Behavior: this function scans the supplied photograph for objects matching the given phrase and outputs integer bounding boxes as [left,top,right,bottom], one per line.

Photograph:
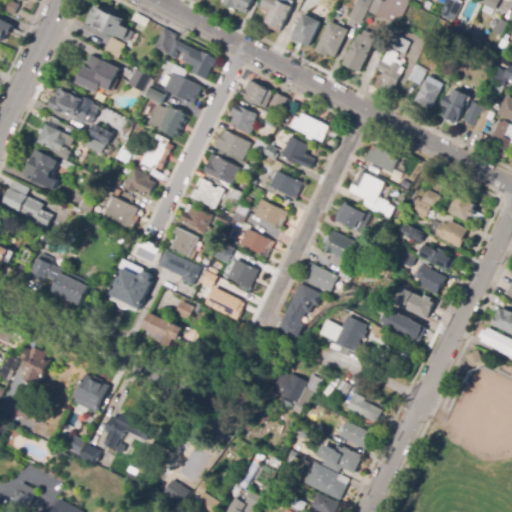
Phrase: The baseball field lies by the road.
[416,368,512,512]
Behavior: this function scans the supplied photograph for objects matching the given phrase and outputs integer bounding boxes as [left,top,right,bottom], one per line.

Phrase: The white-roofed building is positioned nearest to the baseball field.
[482,328,512,356]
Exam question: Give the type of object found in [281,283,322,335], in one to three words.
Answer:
house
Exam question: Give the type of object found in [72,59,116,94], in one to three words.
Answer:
house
